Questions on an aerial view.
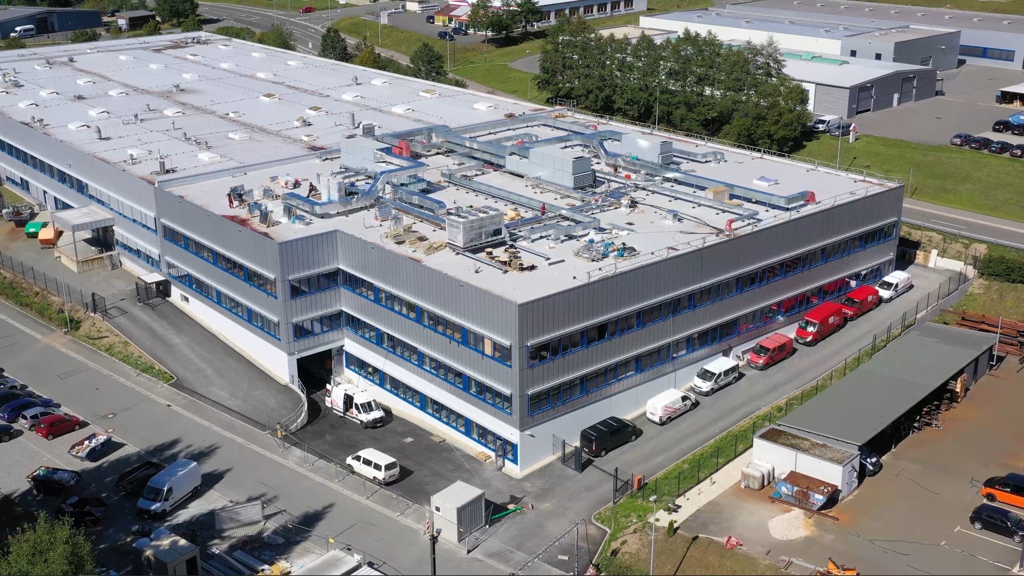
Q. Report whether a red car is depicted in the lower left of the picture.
Yes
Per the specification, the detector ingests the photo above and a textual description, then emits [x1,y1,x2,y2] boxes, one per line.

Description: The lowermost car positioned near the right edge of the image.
[959,511,1024,555]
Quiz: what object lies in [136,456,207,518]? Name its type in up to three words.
van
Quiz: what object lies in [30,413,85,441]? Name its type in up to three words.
car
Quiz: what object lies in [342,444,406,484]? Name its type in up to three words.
van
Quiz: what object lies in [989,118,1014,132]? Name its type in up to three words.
car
